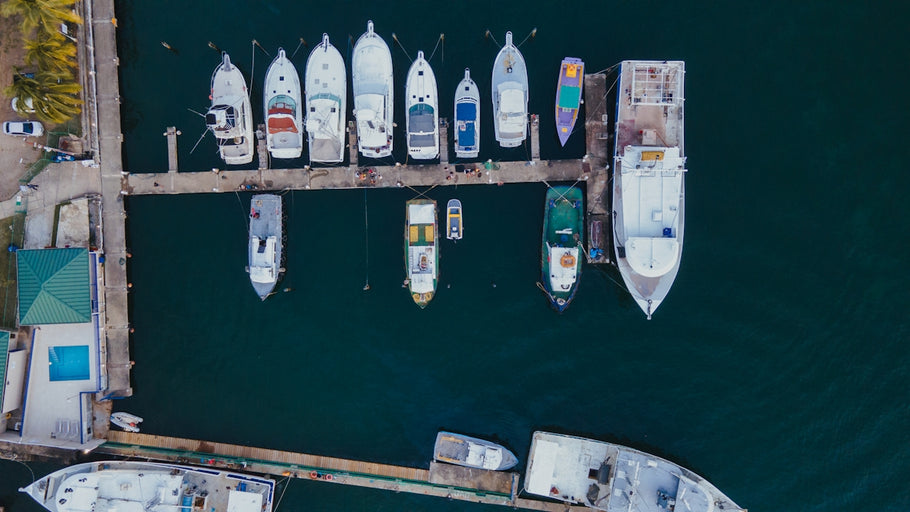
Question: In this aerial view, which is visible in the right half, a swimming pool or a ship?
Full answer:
You can see a ship in the right half.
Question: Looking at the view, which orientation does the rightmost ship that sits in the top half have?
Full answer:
From this overhead view, the rightmost ship that sits in the top half appears to run from top to bottom.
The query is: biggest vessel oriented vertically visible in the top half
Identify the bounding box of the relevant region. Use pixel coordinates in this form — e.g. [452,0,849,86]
[612,61,688,319]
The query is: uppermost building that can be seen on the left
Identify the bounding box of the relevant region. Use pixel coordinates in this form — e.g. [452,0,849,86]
[15,247,92,325]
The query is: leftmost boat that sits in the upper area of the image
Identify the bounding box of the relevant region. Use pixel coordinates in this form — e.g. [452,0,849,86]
[188,52,255,165]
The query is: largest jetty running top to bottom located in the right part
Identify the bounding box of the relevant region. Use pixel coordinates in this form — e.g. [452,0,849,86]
[584,73,610,263]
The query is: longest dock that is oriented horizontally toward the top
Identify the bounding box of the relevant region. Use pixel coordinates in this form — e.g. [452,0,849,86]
[122,160,587,195]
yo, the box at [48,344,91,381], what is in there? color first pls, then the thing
blue swimming pool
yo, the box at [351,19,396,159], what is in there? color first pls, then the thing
white boat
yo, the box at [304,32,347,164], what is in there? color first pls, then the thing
white boat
